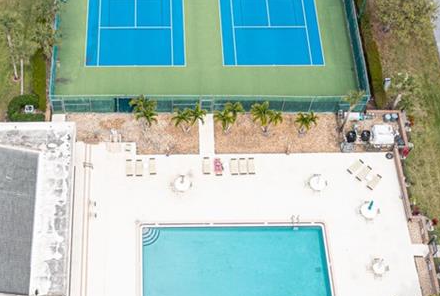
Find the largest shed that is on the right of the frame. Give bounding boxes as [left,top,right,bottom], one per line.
[371,126,398,147]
